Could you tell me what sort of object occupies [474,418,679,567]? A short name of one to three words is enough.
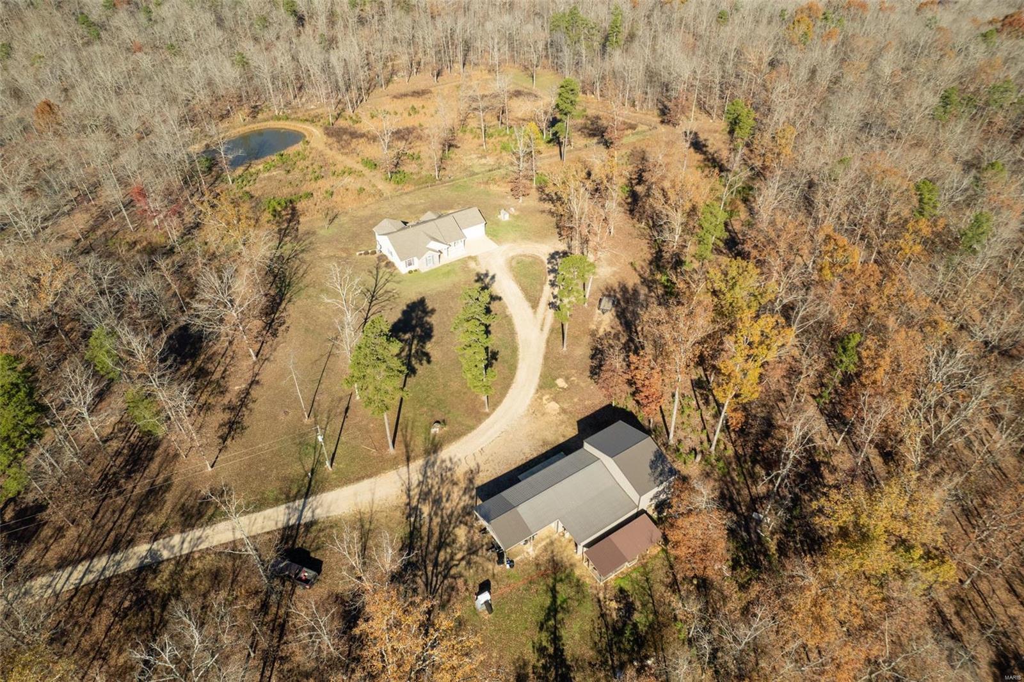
building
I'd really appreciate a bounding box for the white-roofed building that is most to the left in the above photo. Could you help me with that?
[372,205,490,273]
